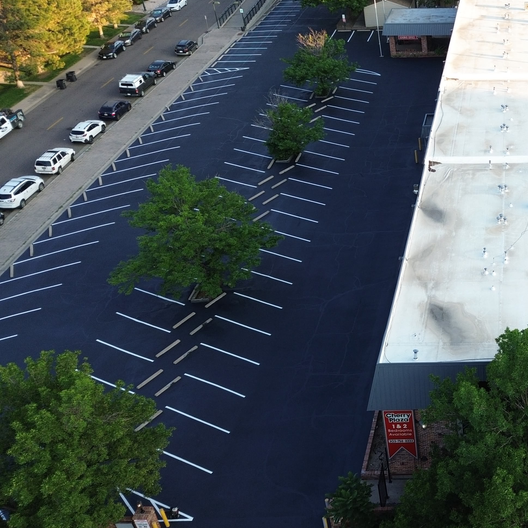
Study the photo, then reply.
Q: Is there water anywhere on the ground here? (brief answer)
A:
No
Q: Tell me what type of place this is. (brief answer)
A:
parking lot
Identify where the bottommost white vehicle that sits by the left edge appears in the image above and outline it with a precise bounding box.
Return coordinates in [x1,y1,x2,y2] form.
[0,179,42,213]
